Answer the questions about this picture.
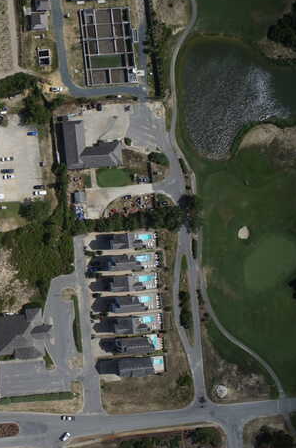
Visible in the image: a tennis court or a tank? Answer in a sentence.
Of the two, only a tank appears.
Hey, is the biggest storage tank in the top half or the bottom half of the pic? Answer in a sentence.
You can find the biggest storage tank in the top half.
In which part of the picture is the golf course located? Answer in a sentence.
The golf course sits in the right section of the image.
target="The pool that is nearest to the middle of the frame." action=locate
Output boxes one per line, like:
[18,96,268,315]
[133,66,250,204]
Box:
[131,232,158,248]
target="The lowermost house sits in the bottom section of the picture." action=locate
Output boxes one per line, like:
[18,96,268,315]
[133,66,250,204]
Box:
[108,354,157,378]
